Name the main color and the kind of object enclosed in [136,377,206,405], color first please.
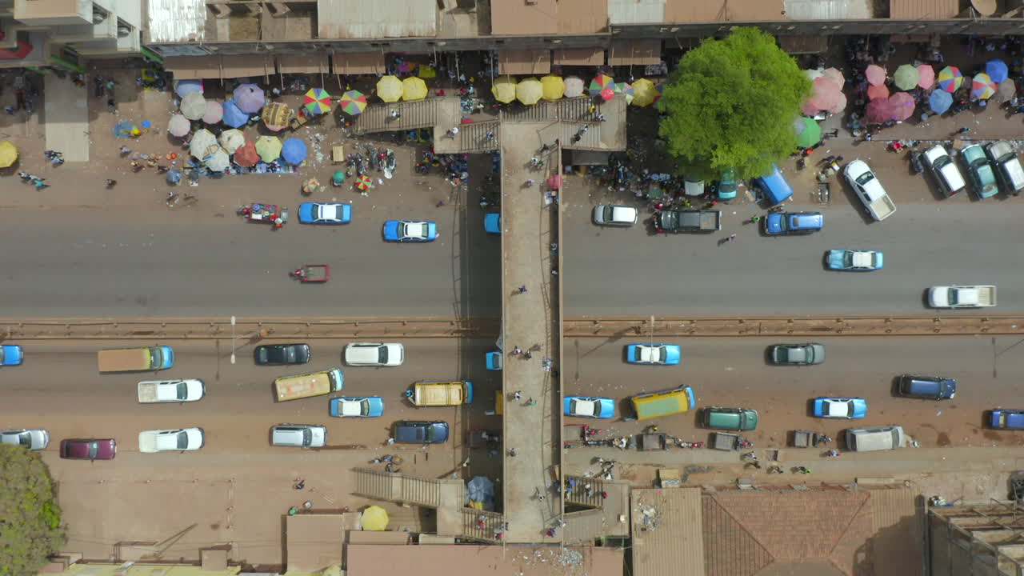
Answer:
white truck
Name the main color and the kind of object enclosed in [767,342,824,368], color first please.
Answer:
gray car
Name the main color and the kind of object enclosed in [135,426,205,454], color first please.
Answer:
white truck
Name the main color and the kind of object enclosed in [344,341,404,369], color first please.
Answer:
white car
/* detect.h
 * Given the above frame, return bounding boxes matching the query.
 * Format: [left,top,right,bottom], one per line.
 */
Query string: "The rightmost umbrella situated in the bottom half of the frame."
[466,475,494,503]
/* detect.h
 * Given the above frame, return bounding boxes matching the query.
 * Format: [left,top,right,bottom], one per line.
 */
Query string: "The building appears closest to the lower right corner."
[929,501,1024,576]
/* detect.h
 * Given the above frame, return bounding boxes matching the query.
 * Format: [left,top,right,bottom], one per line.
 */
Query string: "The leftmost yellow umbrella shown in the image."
[0,141,30,167]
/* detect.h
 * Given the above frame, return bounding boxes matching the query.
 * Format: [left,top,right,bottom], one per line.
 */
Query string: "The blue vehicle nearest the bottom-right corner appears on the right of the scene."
[985,407,1024,429]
